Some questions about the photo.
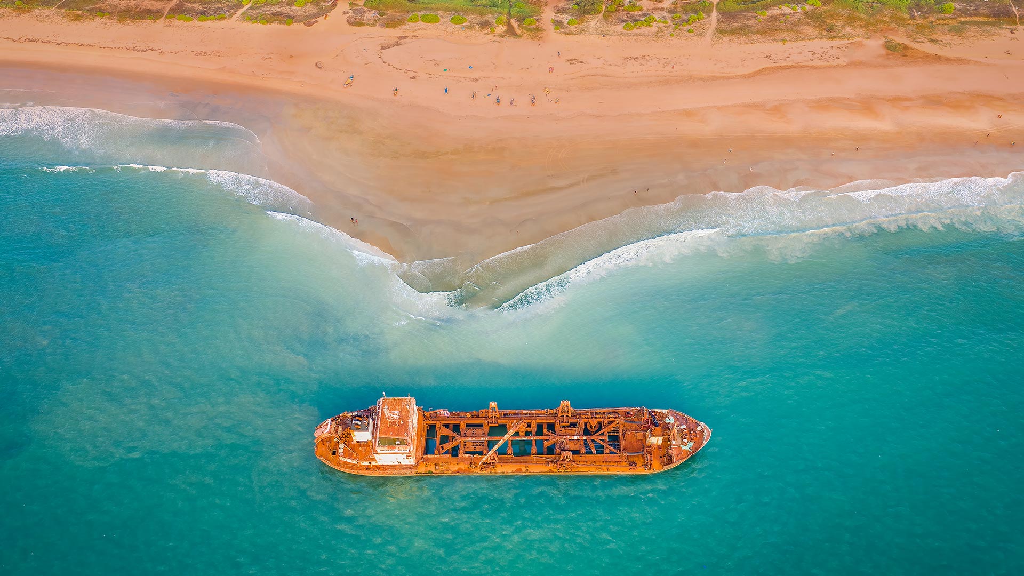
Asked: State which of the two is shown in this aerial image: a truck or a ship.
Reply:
ship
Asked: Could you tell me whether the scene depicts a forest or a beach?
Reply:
beach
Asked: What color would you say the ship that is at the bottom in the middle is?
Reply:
orange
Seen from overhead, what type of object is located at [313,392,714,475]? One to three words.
ship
